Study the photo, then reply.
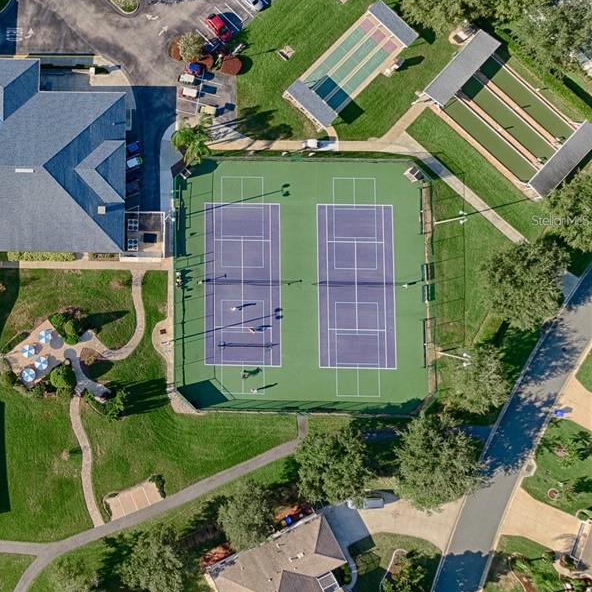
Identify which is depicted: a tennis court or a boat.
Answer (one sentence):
Of the two, only a tennis court appears.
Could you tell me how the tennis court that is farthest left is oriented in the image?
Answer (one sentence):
I'd say the tennis court that is farthest left is aligned up and down in the picture.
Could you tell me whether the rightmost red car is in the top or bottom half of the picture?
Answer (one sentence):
The rightmost red car sits in the top half of the picture.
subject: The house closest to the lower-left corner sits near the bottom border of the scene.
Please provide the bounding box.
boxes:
[208,512,345,592]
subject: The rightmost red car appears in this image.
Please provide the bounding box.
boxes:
[204,12,234,43]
